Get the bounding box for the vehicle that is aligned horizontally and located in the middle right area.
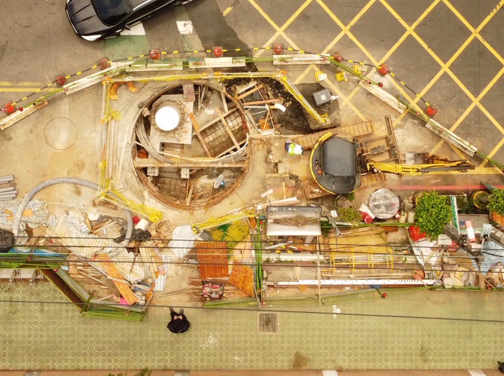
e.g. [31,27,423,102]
[297,116,475,200]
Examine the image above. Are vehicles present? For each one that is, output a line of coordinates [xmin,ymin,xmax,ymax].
[297,116,475,200]
[65,0,199,40]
